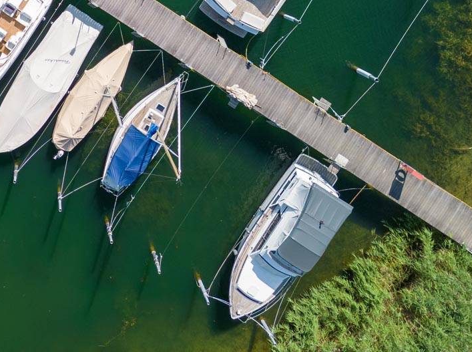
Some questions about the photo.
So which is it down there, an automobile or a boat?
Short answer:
boat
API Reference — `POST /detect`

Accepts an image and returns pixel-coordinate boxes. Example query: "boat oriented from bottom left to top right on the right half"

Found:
[232,155,352,329]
